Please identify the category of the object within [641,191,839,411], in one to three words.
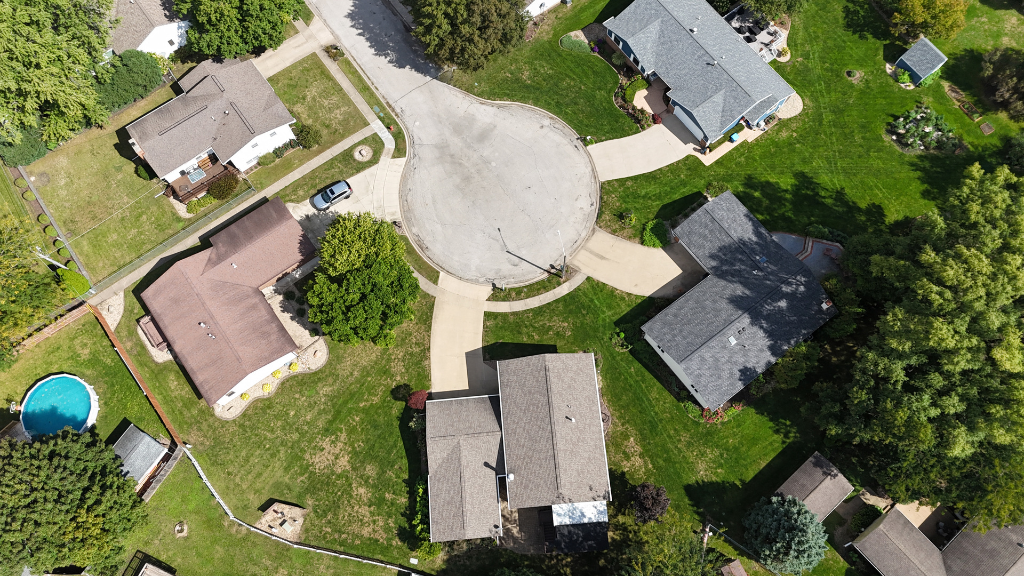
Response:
house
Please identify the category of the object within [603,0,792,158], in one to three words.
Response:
house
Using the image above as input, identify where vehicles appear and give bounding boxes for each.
[314,182,354,211]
